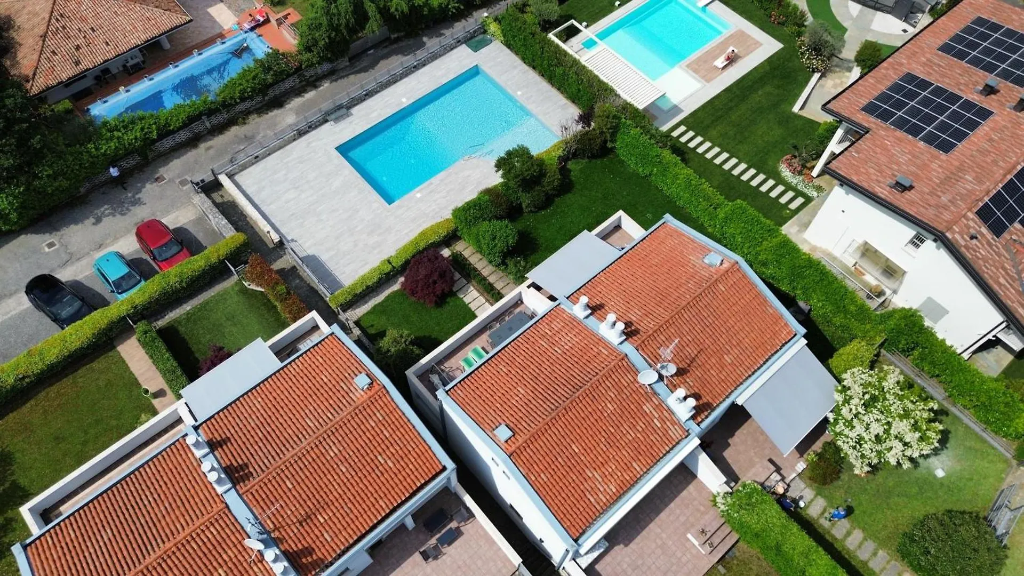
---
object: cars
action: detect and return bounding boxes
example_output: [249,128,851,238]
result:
[137,219,193,276]
[29,274,99,334]
[97,253,151,301]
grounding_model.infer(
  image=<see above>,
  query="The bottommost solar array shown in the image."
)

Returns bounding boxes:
[976,167,1024,261]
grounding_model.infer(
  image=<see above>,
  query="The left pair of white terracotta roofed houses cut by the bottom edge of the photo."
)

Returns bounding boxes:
[12,309,456,576]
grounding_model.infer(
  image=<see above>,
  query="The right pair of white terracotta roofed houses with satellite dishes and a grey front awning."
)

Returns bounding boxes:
[406,210,805,563]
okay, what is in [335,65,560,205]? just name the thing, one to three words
swimming pool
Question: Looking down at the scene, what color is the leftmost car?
black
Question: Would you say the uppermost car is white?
No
